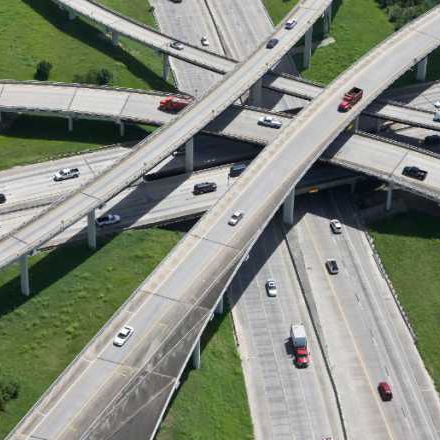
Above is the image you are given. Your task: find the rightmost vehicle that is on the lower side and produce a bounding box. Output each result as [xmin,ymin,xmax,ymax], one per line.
[378,381,392,402]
